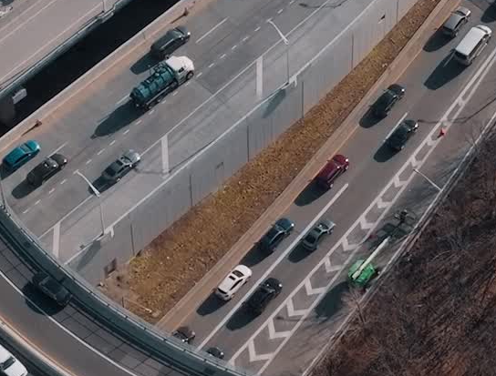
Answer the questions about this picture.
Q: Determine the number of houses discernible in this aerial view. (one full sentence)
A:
The count of houses is 0.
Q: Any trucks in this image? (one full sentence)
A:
Yes, there's a truck down there.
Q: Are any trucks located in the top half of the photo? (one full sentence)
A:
Yes, a truck appears in the top half of the photo.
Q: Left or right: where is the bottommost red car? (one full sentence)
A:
You can find the bottommost red car on the right side of the picture.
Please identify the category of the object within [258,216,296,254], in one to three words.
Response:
car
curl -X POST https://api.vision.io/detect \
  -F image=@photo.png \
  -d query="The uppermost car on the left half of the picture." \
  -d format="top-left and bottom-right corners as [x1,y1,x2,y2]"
[148,25,190,59]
